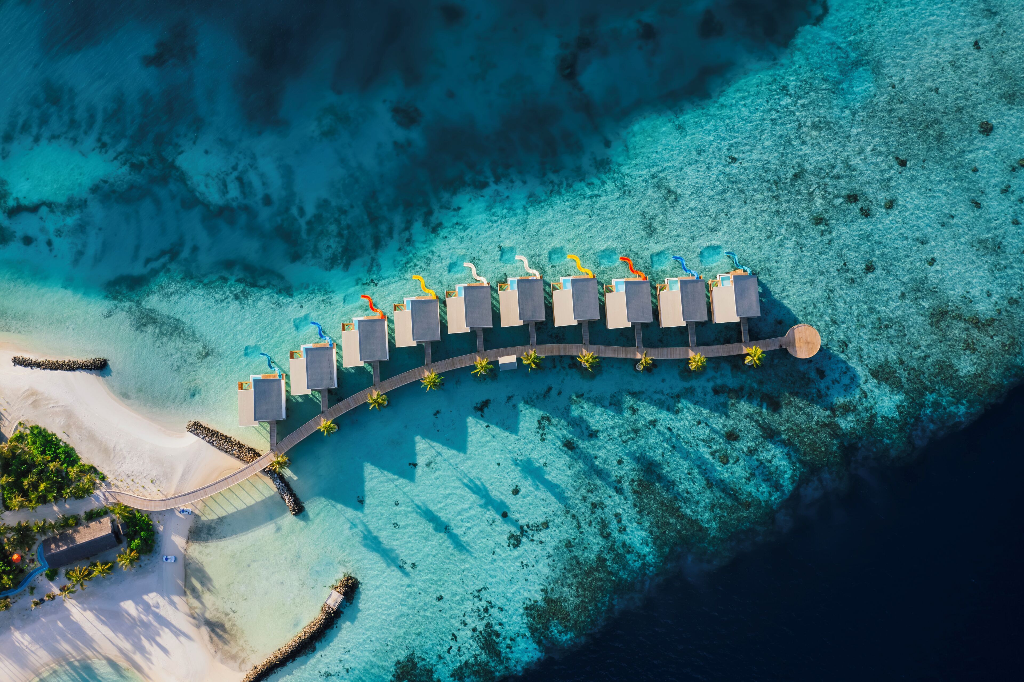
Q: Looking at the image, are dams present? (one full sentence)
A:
No, I can't see a single dam in this photo.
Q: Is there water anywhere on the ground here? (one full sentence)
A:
Yes, water shows up in the scene.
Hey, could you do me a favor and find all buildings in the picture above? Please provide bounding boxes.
[340,294,391,367]
[392,275,441,347]
[603,257,653,329]
[237,352,289,427]
[657,256,708,328]
[444,262,493,334]
[288,321,340,395]
[497,255,546,327]
[42,518,124,568]
[551,255,600,327]
[709,251,761,323]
